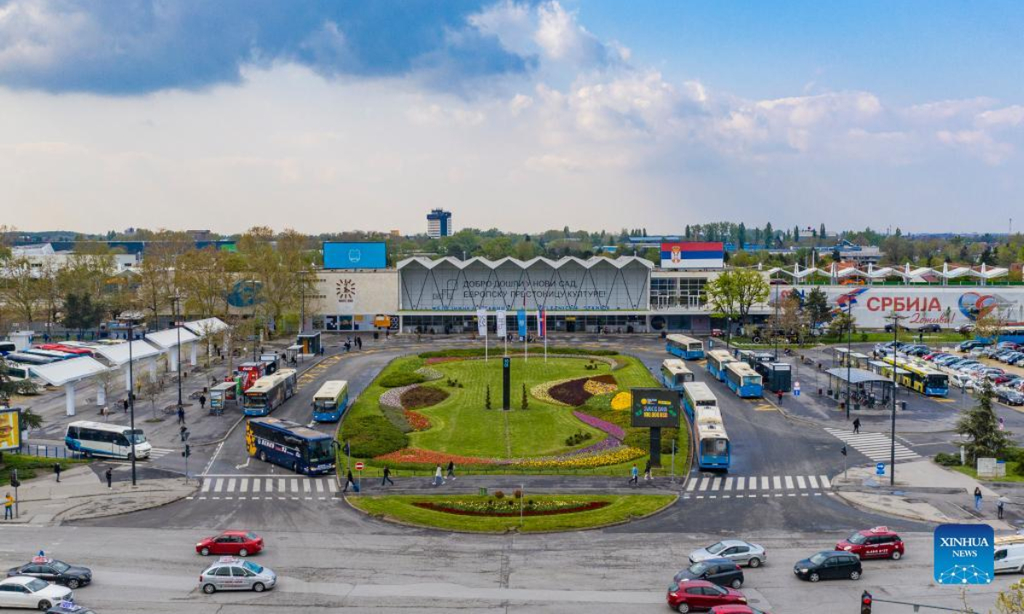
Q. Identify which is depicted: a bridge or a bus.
bus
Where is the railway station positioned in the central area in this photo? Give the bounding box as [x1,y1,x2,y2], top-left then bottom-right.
[165,254,777,334]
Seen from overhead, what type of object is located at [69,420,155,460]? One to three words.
vehicle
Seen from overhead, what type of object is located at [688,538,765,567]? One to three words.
car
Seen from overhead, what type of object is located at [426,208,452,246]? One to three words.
building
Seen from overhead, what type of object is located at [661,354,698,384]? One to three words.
bus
